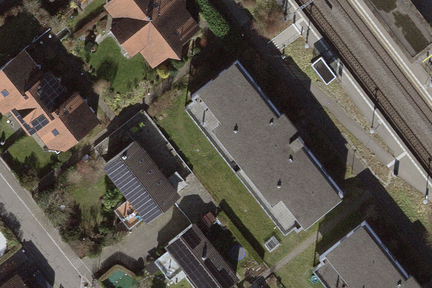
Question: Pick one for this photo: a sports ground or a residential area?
residential area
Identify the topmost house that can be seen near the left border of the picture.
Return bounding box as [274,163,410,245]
[0,52,101,160]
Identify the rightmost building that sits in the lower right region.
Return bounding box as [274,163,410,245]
[314,218,424,288]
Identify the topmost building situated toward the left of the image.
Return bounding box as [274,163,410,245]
[97,0,210,79]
